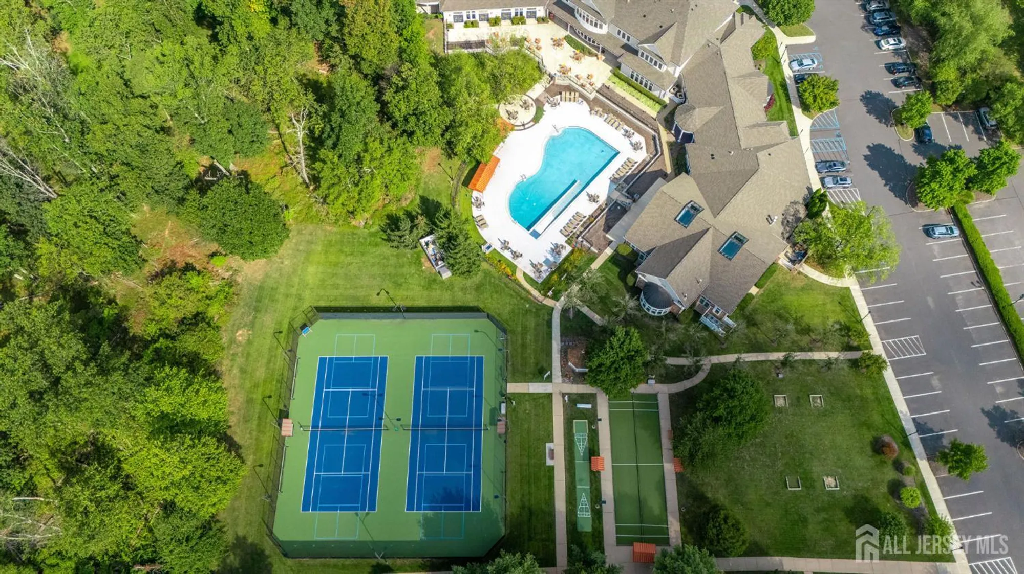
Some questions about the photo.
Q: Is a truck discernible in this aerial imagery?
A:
No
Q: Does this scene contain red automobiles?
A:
No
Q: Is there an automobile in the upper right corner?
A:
Yes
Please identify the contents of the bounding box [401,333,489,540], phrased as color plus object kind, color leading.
blue tennis court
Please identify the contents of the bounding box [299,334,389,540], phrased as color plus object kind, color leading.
blue tennis court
